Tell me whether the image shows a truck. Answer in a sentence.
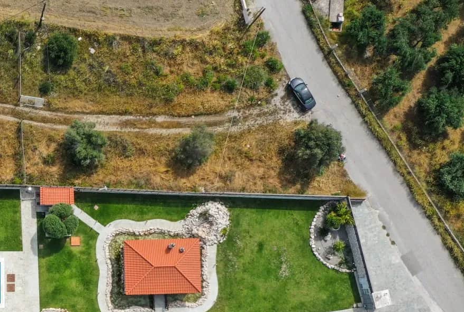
No, this view has no truck in it.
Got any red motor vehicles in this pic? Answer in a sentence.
No, this view has no red motor vehicle in it.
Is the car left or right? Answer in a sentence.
The car sits on the right side.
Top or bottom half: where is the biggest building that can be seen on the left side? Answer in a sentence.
You can find the biggest building that can be seen on the left side in the bottom half.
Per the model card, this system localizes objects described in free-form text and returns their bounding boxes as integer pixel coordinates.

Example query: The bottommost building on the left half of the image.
[122,238,203,311]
